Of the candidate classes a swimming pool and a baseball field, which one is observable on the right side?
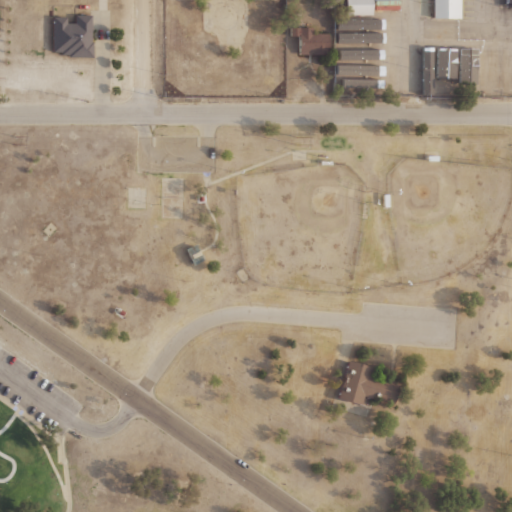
baseball field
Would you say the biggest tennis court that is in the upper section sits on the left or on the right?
left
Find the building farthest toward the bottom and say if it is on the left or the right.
right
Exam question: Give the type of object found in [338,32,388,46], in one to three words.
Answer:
building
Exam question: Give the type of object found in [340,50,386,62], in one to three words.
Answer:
building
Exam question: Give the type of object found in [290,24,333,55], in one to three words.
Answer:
house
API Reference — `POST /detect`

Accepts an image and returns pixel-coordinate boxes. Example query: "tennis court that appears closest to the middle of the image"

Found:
[162,178,183,217]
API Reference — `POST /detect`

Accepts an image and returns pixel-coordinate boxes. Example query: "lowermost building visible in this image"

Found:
[340,362,402,408]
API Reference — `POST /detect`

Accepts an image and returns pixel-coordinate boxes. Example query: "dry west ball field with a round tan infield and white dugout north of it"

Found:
[240,166,362,286]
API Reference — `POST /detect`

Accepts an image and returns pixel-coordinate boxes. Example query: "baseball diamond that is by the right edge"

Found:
[394,162,508,278]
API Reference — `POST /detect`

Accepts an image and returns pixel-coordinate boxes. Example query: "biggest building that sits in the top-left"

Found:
[53,15,94,58]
